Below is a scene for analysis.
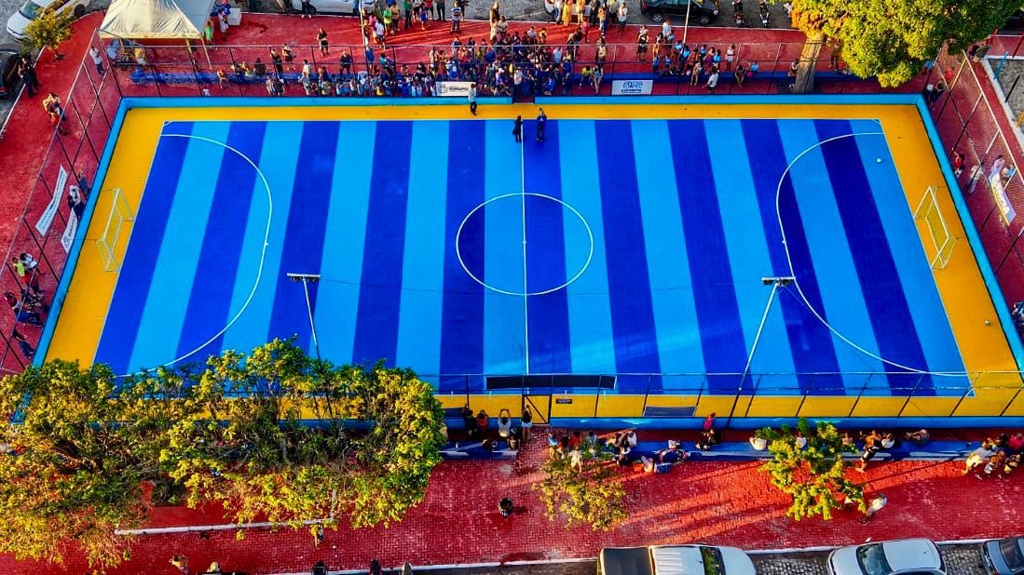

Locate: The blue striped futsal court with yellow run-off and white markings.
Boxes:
[26,104,1024,425]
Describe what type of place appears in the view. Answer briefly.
sports ground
